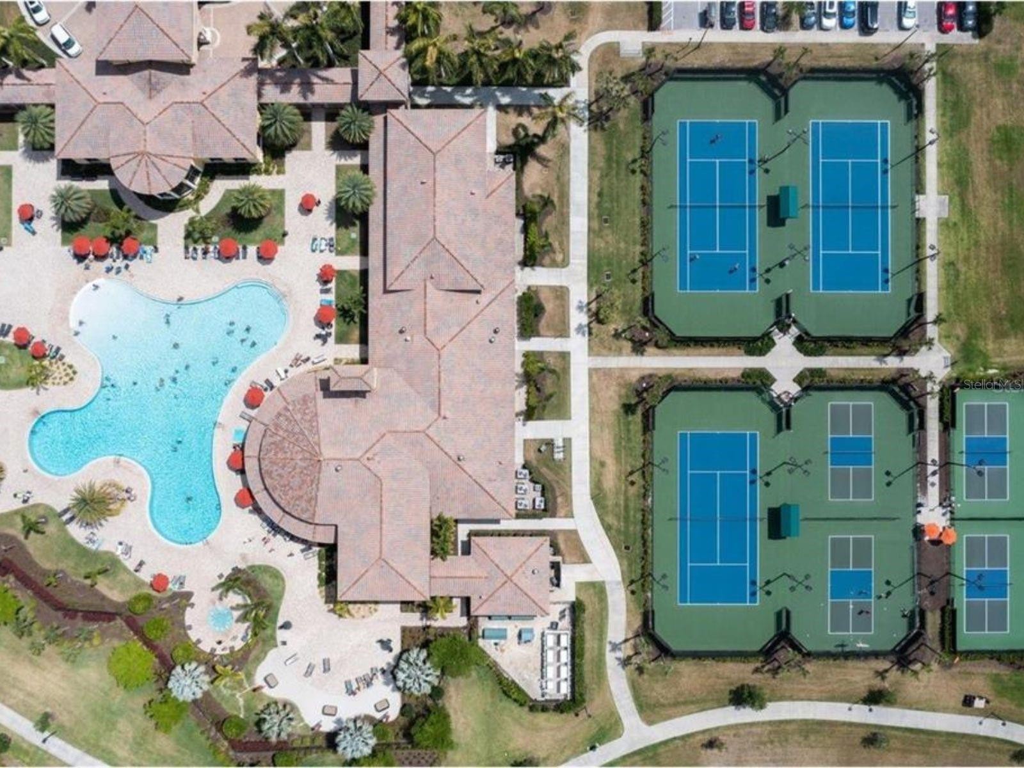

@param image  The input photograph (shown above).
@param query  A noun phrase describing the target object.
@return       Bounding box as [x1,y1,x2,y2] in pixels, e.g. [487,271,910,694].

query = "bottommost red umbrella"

[151,573,171,592]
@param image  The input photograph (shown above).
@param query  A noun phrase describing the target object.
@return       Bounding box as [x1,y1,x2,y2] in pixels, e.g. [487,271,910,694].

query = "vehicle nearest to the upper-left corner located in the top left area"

[24,0,51,29]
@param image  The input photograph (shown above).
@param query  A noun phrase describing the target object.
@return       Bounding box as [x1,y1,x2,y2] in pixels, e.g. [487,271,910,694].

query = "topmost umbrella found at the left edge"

[17,202,36,222]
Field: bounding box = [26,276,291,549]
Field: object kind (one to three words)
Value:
swimming pool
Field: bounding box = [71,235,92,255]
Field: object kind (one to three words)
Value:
umbrella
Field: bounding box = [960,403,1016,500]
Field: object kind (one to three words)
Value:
sports court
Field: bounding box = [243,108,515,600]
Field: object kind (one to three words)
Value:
building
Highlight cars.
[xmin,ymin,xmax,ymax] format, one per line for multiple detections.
[840,0,857,29]
[899,0,916,30]
[860,0,879,34]
[802,0,818,29]
[703,0,719,26]
[52,23,83,58]
[761,0,777,33]
[740,0,756,30]
[938,0,956,33]
[821,0,838,30]
[958,0,974,31]
[24,0,51,29]
[720,0,736,31]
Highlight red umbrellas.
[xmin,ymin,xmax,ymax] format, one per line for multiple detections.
[71,235,92,255]
[220,236,241,257]
[31,339,51,359]
[319,264,337,282]
[235,488,255,508]
[151,573,171,592]
[121,236,140,255]
[244,386,266,408]
[92,237,111,256]
[298,192,318,213]
[17,202,36,222]
[258,238,279,259]
[226,448,244,469]
[316,304,335,324]
[11,327,31,347]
